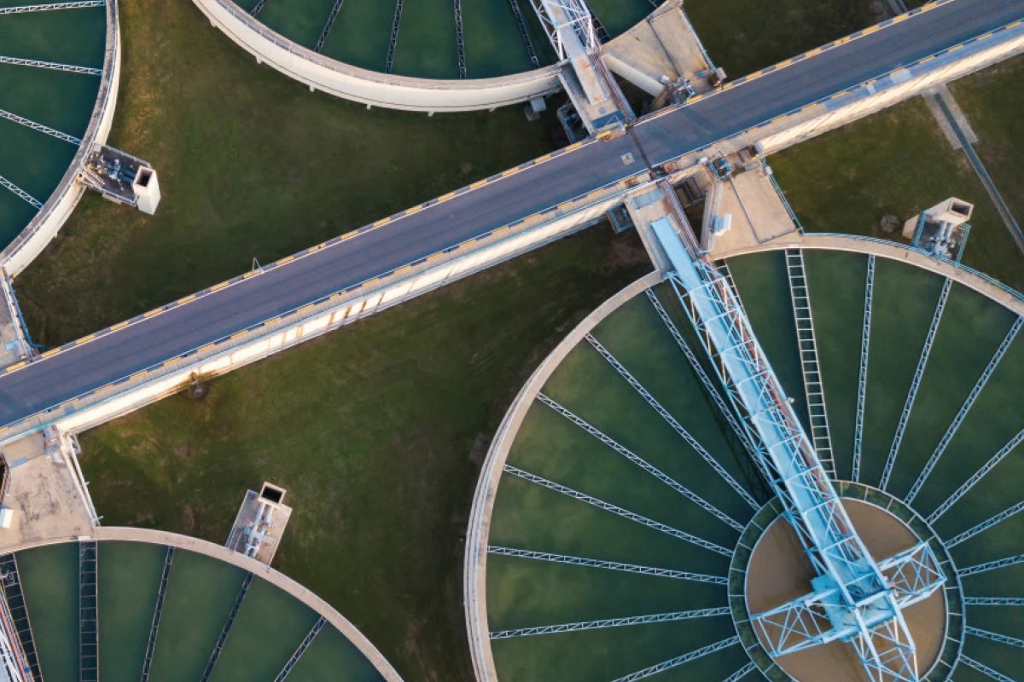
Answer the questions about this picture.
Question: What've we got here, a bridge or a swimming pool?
bridge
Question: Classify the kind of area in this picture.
industrial area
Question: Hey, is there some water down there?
Yes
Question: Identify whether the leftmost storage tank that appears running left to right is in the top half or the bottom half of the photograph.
bottom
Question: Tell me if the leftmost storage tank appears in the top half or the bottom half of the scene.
top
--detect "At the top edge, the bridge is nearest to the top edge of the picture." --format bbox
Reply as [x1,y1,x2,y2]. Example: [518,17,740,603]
[528,0,611,106]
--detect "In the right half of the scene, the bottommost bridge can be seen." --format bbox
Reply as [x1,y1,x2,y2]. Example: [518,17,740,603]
[648,214,918,682]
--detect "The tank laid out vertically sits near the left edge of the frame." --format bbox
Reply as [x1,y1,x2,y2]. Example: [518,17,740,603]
[0,0,123,280]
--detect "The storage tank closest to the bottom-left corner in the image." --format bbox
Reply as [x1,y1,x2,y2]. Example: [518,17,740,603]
[0,523,403,682]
